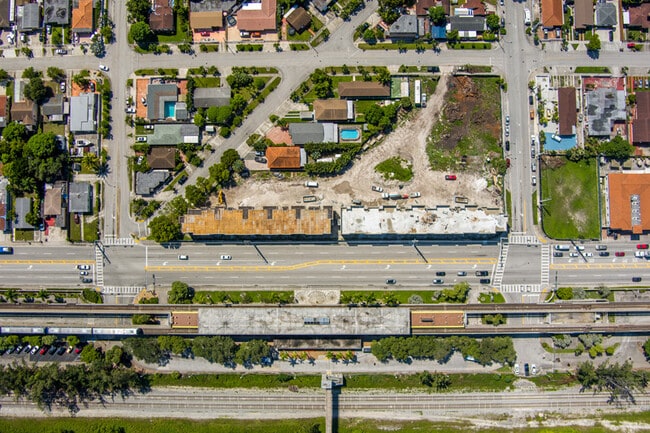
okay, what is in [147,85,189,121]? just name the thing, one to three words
house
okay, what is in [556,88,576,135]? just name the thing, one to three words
house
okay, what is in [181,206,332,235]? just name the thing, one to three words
building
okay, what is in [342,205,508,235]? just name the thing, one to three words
building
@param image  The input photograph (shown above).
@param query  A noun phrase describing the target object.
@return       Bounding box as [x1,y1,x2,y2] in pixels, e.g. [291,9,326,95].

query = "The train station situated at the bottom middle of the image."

[169,306,467,335]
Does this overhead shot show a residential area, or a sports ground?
residential area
